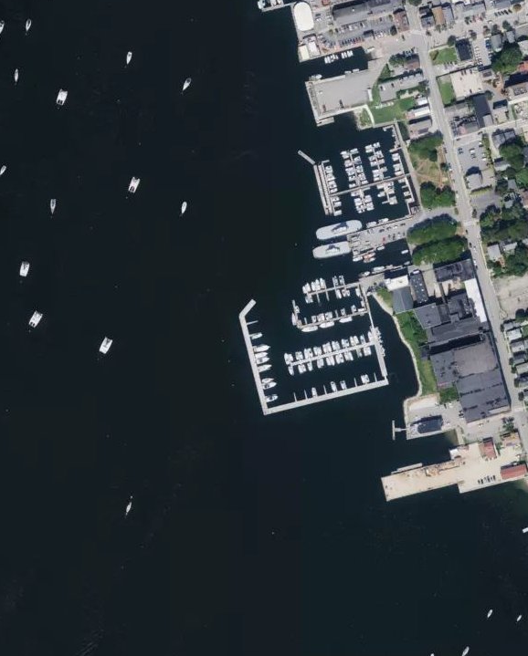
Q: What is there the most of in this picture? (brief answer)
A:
water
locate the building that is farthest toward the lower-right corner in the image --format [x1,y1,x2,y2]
[501,462,528,482]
